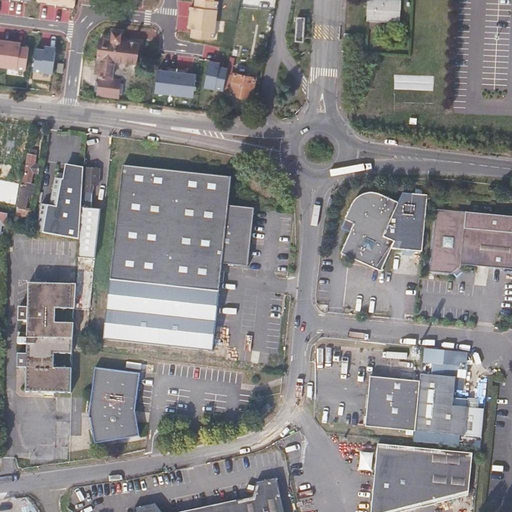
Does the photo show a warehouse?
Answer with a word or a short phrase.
Yes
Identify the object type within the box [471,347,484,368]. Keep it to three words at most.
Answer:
vehicle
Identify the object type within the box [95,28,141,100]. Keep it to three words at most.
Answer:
house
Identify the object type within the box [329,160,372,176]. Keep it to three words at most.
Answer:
vehicle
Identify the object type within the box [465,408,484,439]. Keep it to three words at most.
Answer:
building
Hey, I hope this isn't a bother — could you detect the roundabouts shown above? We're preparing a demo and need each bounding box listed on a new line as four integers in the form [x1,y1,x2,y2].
[289,118,350,180]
